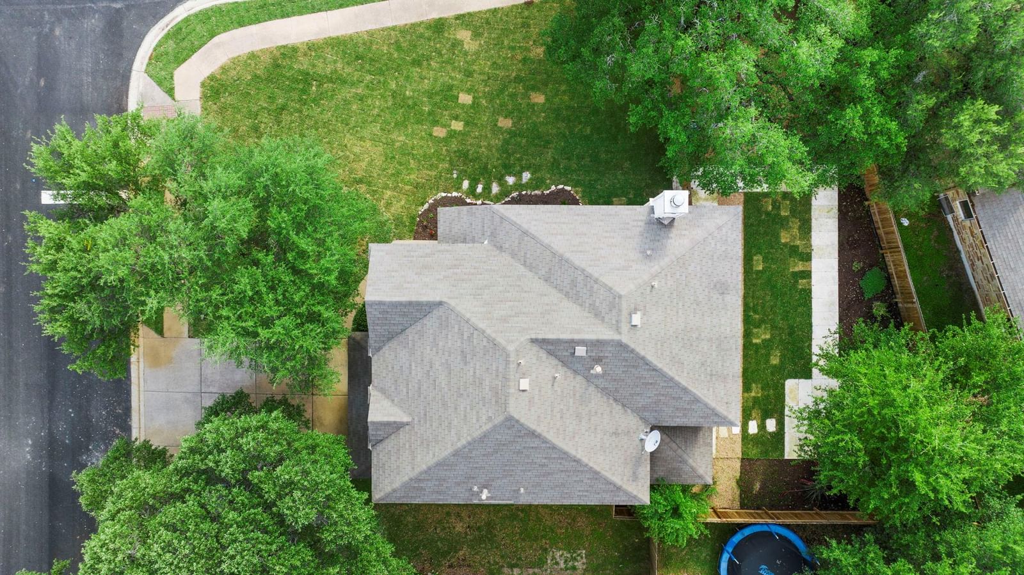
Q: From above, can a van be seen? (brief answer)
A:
No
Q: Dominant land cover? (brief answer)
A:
trees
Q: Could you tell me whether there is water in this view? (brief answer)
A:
No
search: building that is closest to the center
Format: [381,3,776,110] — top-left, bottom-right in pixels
[348,191,744,505]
